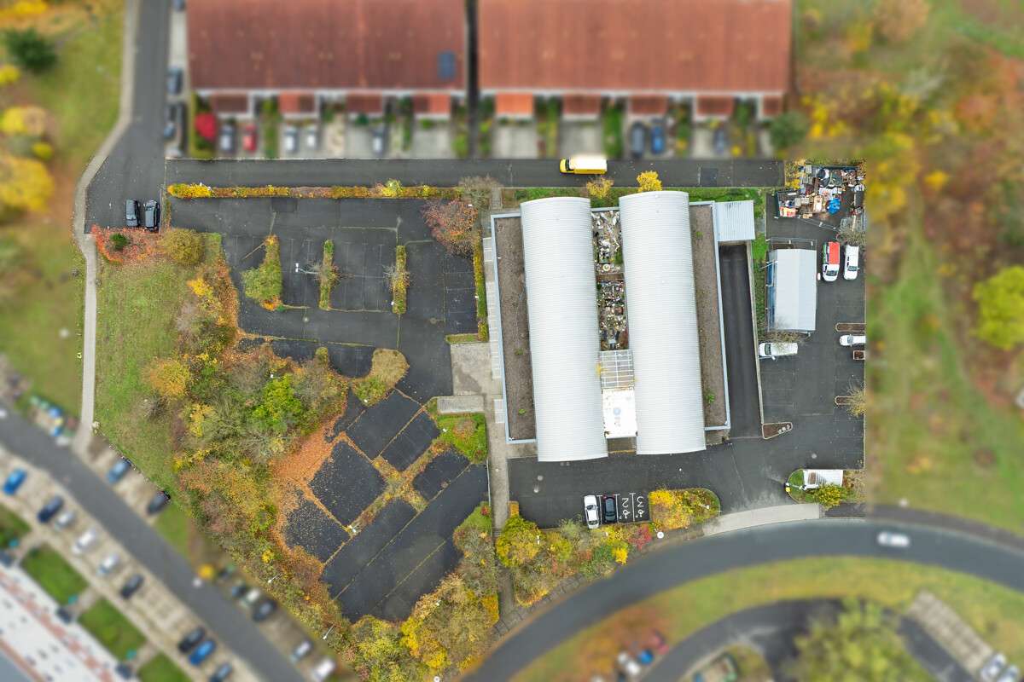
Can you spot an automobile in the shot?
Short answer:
Yes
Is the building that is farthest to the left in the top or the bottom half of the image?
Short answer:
bottom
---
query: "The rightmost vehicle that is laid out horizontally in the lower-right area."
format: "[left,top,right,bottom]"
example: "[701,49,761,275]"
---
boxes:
[876,531,910,547]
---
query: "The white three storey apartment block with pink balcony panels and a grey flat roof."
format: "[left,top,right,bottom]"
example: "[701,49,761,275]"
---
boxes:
[0,556,138,682]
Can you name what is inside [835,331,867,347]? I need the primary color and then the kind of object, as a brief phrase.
white vehicle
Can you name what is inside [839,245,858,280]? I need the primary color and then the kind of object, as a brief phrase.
white vehicle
